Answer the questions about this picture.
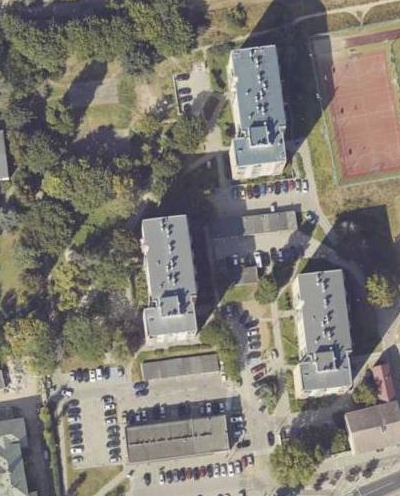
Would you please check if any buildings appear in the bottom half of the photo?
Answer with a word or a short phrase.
Yes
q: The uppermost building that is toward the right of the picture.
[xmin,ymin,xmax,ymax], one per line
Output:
[230,45,287,181]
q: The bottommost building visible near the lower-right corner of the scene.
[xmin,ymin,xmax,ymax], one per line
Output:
[345,402,400,454]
